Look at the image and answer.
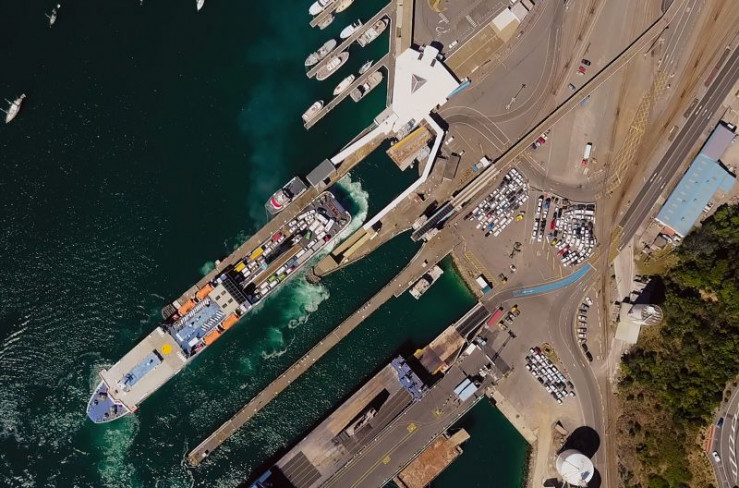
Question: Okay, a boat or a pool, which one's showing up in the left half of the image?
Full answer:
The one visible in the left half of the image is a boat.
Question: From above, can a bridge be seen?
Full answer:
Yes, there is a bridge in the image.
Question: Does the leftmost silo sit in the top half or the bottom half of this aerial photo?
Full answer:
You can find the leftmost silo in the bottom half.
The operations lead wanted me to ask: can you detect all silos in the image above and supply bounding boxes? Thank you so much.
[554,446,595,488]
[626,303,663,327]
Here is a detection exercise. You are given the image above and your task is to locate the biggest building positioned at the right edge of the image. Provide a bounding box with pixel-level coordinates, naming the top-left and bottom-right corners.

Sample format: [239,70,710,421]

[652,153,735,237]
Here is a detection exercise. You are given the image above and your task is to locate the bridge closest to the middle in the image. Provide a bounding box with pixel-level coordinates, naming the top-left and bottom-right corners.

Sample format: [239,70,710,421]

[408,196,461,244]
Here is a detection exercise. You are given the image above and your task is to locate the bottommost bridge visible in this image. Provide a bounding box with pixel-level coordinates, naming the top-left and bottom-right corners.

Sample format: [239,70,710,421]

[414,302,491,374]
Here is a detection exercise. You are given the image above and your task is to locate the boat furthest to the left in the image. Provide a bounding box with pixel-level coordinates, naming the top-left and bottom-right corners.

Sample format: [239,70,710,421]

[1,95,25,123]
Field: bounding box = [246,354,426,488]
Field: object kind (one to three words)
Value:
ship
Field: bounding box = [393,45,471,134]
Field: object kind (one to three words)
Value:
building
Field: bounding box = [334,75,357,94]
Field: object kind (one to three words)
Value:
boat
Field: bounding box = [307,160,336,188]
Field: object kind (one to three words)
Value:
shed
